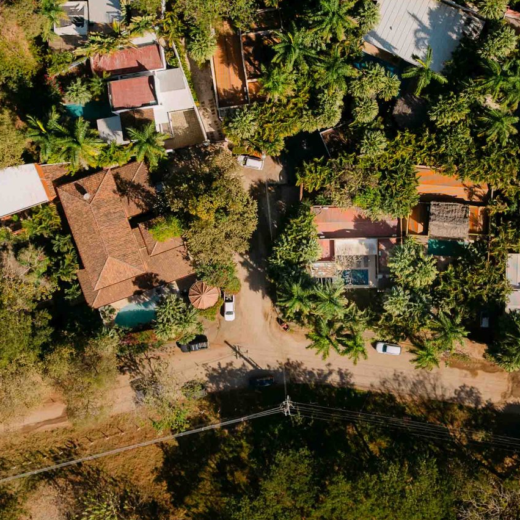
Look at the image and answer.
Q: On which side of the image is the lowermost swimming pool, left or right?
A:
left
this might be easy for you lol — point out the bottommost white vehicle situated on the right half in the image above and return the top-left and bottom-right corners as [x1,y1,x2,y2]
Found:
[377,342,401,355]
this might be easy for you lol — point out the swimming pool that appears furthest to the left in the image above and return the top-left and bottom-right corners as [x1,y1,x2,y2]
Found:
[64,102,115,119]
